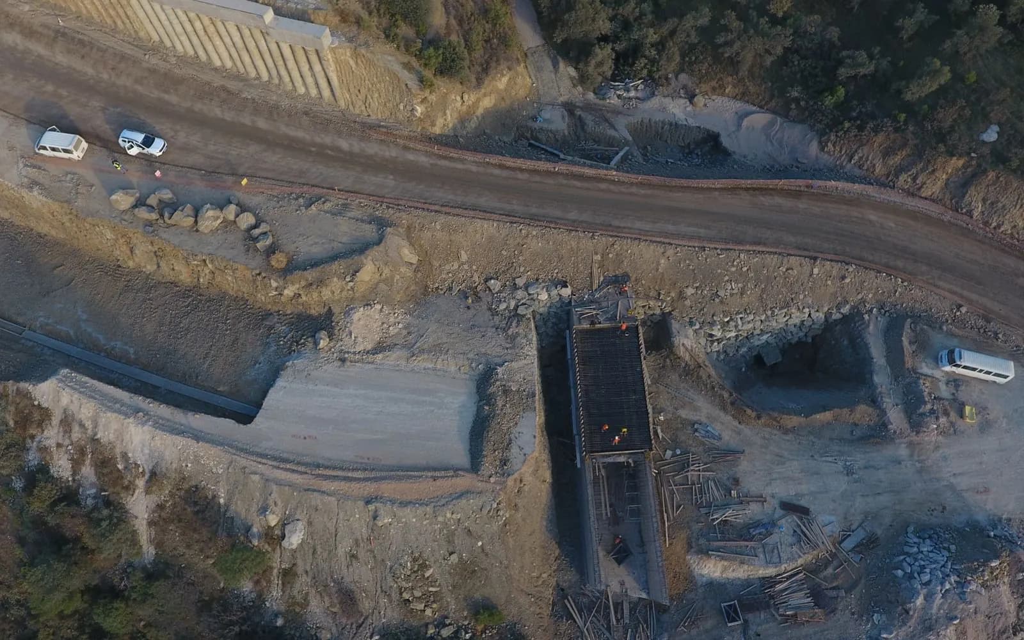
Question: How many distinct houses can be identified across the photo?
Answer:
0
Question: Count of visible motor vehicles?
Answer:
three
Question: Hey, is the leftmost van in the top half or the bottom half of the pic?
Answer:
top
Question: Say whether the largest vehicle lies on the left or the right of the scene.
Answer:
right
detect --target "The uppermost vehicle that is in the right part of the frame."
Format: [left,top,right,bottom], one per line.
[937,349,1015,383]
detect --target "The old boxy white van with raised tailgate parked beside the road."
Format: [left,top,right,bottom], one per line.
[29,127,85,161]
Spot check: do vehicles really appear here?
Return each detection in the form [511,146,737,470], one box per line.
[937,349,1015,383]
[29,127,85,161]
[119,129,167,157]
